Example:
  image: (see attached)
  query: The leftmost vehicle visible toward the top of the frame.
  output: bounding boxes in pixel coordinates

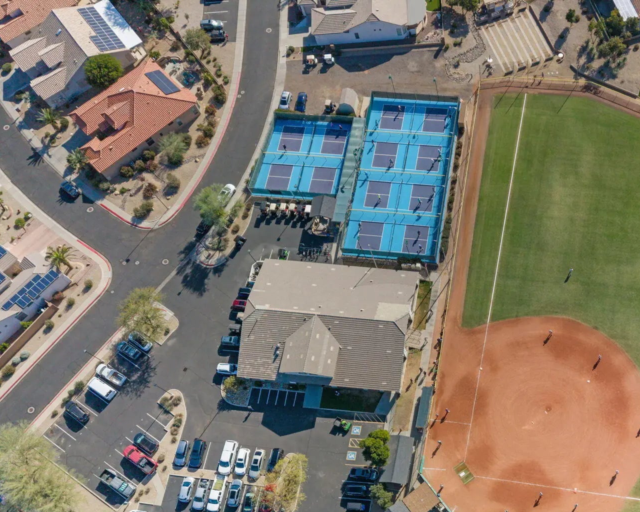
[60,180,82,199]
